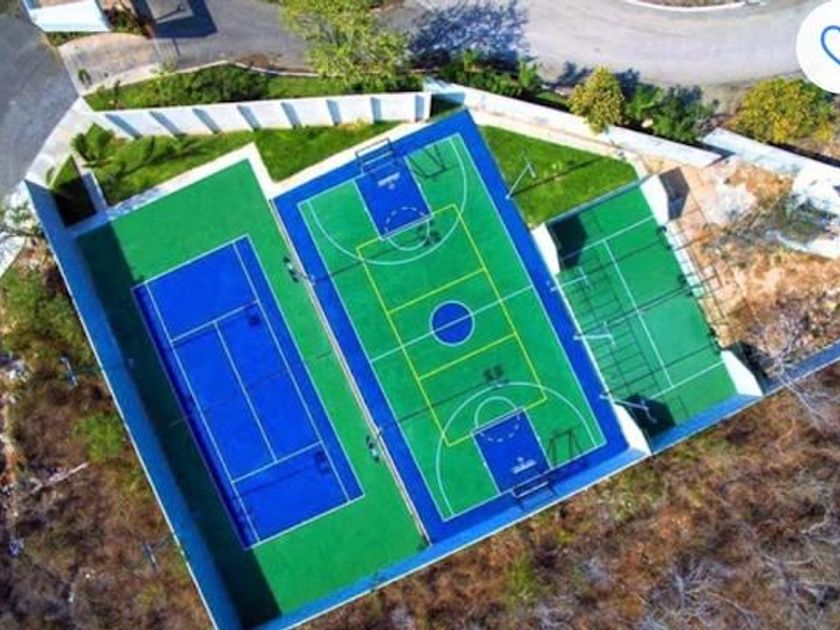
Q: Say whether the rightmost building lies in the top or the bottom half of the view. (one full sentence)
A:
Seen from above, the rightmost building lies in the top half of the view.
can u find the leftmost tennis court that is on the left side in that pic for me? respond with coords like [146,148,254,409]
[72,161,423,630]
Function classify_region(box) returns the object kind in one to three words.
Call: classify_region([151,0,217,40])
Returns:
building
